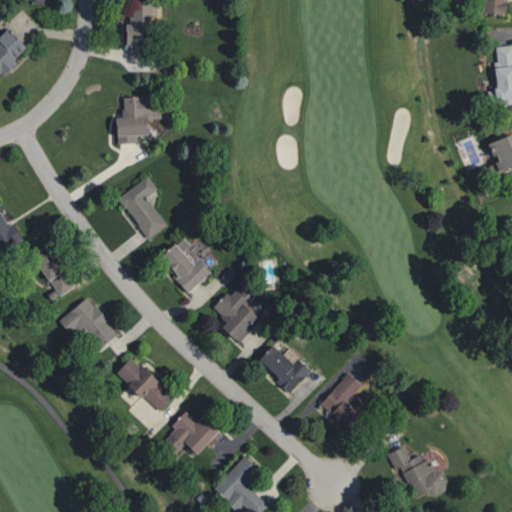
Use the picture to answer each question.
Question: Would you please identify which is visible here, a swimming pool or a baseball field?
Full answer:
Visible in the photo is a swimming pool.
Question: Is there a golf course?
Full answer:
Yes, I can see a golf course in this picture.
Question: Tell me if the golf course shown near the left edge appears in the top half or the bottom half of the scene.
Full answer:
Seen from above, the golf course shown near the left edge lies in the bottom half of the view.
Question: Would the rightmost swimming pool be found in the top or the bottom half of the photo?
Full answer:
The rightmost swimming pool is in the top half of the image.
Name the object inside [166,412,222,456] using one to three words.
house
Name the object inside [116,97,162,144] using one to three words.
house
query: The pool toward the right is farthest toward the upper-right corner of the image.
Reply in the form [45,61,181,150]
[456,136,486,166]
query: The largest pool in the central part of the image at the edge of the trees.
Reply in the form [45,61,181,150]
[259,258,279,290]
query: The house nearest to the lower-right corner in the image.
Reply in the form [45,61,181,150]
[389,447,447,501]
